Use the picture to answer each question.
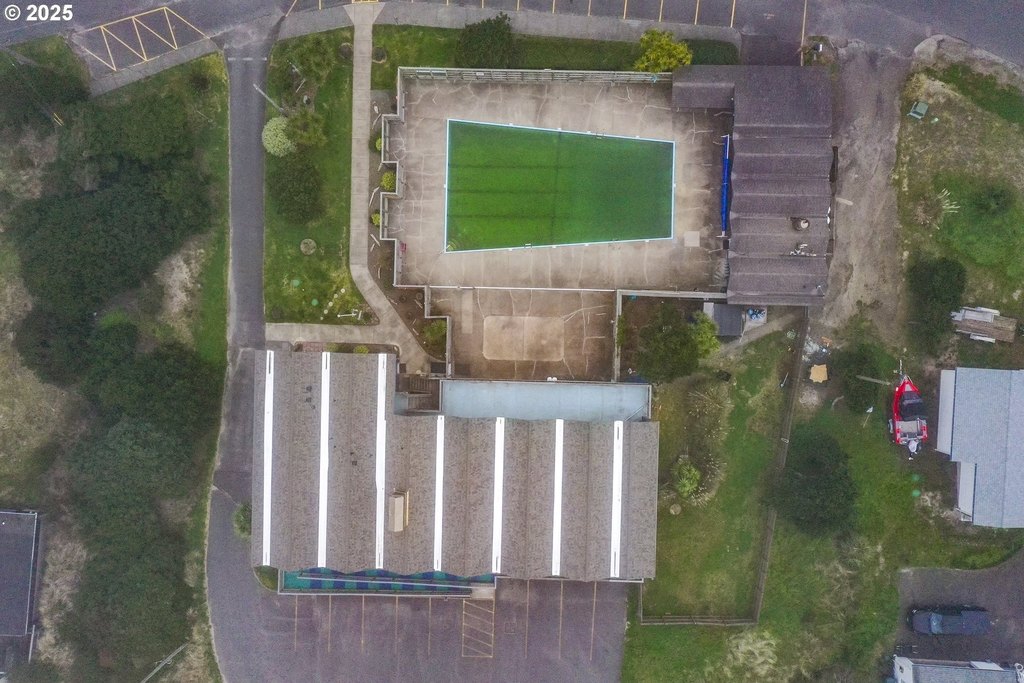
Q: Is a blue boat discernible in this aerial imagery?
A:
No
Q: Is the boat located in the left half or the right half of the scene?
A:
right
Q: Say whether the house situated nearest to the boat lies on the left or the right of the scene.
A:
right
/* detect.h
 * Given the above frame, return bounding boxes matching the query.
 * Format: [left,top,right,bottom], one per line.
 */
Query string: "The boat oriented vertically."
[892,376,930,455]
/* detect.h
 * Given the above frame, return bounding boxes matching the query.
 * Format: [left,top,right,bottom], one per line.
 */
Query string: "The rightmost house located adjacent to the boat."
[936,366,1024,528]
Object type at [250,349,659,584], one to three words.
building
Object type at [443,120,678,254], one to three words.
swimming pool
